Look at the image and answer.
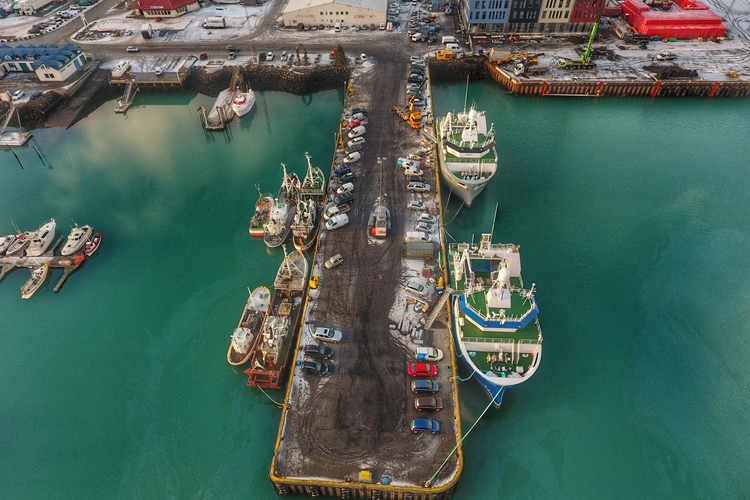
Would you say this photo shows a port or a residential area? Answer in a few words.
port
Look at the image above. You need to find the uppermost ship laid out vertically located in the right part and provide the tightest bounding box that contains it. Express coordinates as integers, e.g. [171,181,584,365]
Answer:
[439,75,497,207]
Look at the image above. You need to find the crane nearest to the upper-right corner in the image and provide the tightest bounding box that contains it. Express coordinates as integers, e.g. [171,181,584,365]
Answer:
[557,0,605,70]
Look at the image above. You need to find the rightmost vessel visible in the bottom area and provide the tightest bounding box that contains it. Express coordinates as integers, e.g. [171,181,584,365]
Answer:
[448,207,543,406]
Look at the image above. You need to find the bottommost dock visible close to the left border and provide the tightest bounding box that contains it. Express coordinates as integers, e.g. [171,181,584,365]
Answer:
[0,236,87,293]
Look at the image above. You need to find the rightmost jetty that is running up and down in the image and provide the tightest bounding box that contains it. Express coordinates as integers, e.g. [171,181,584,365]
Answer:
[268,62,465,500]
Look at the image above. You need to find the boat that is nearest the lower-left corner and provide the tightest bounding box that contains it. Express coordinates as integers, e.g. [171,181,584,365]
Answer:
[18,262,51,301]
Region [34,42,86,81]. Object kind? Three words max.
shed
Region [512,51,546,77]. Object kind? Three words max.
truck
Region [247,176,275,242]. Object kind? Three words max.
boat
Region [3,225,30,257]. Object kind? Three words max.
boat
